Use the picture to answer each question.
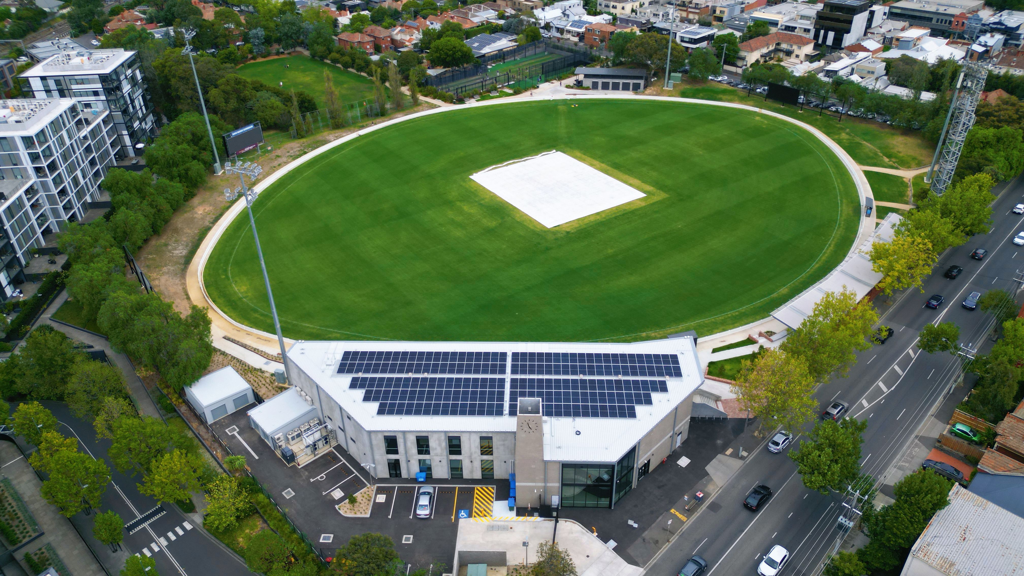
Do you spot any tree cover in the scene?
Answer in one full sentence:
Yes, there is tree cover in the image.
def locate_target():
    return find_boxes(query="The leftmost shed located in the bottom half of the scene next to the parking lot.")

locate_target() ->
[182,364,256,426]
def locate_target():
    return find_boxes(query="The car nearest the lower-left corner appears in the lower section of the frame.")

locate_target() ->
[415,486,435,519]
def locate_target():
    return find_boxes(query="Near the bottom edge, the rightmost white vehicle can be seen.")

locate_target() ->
[756,541,791,576]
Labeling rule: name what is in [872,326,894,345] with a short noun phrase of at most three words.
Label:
car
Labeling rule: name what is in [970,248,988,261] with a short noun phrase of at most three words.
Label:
vehicle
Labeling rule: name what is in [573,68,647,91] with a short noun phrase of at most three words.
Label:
shed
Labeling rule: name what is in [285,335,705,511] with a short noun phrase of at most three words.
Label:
building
